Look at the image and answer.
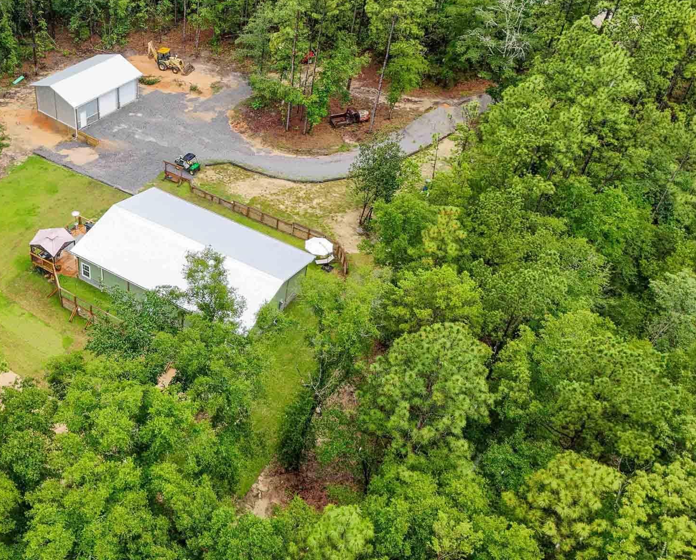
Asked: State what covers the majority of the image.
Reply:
trees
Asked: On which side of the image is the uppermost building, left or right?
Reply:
left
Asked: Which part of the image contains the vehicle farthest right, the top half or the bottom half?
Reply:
top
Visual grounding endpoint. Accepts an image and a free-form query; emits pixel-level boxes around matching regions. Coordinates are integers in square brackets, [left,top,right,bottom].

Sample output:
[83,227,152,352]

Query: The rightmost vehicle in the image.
[328,109,372,129]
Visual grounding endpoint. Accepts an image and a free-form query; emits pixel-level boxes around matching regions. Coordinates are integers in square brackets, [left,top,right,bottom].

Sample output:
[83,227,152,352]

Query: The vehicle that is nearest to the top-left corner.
[141,41,197,81]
